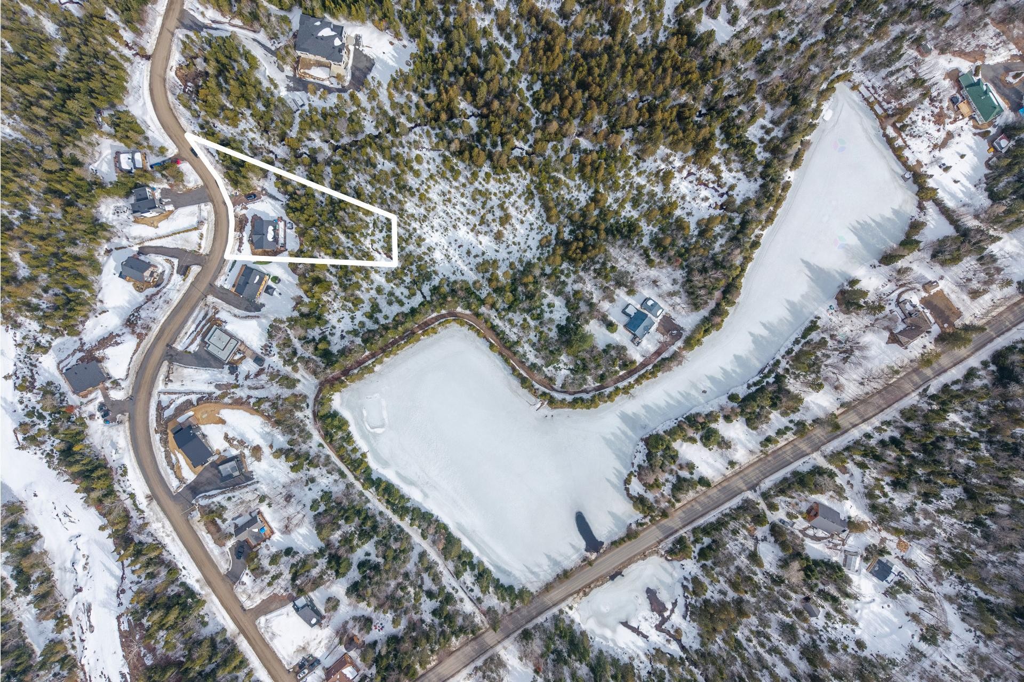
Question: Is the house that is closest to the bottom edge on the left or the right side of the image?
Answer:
left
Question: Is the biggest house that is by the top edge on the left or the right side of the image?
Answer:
left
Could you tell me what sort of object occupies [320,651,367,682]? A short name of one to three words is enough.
house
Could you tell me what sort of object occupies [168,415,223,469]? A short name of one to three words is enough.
house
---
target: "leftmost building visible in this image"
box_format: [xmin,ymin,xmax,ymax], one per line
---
[65,362,110,395]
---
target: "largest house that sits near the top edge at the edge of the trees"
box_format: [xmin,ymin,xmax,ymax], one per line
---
[294,15,357,86]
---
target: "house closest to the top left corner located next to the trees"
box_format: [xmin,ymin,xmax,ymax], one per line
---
[114,151,151,174]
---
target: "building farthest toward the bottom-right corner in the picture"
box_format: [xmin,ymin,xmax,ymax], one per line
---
[862,555,894,584]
